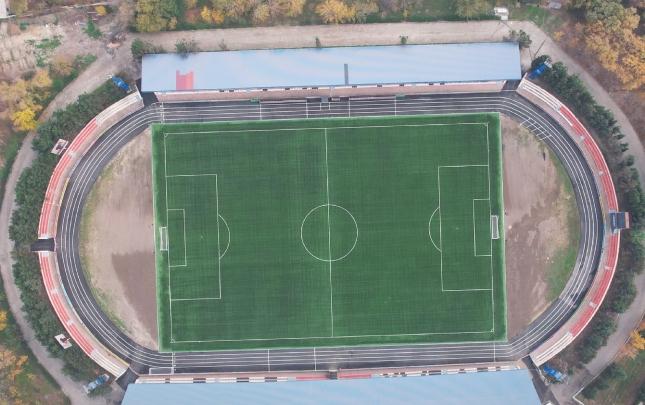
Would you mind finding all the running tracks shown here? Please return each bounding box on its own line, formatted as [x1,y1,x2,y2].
[62,90,597,375]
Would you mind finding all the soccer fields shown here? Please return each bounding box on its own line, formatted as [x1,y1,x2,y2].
[152,112,508,353]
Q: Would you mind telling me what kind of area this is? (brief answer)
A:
sports ground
